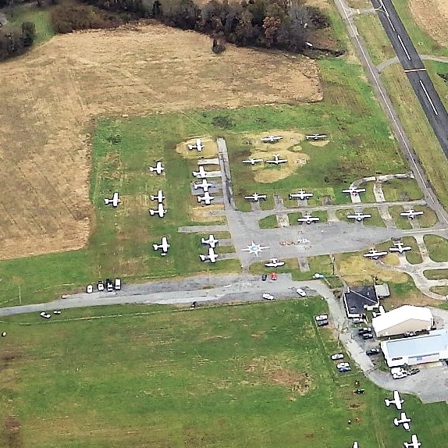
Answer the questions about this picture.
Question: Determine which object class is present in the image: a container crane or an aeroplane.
aeroplane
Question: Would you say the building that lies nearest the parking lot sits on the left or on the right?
right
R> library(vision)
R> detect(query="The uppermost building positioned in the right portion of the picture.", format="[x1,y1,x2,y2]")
[344,284,390,319]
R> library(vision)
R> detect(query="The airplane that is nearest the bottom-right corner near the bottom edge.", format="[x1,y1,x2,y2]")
[404,435,425,448]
